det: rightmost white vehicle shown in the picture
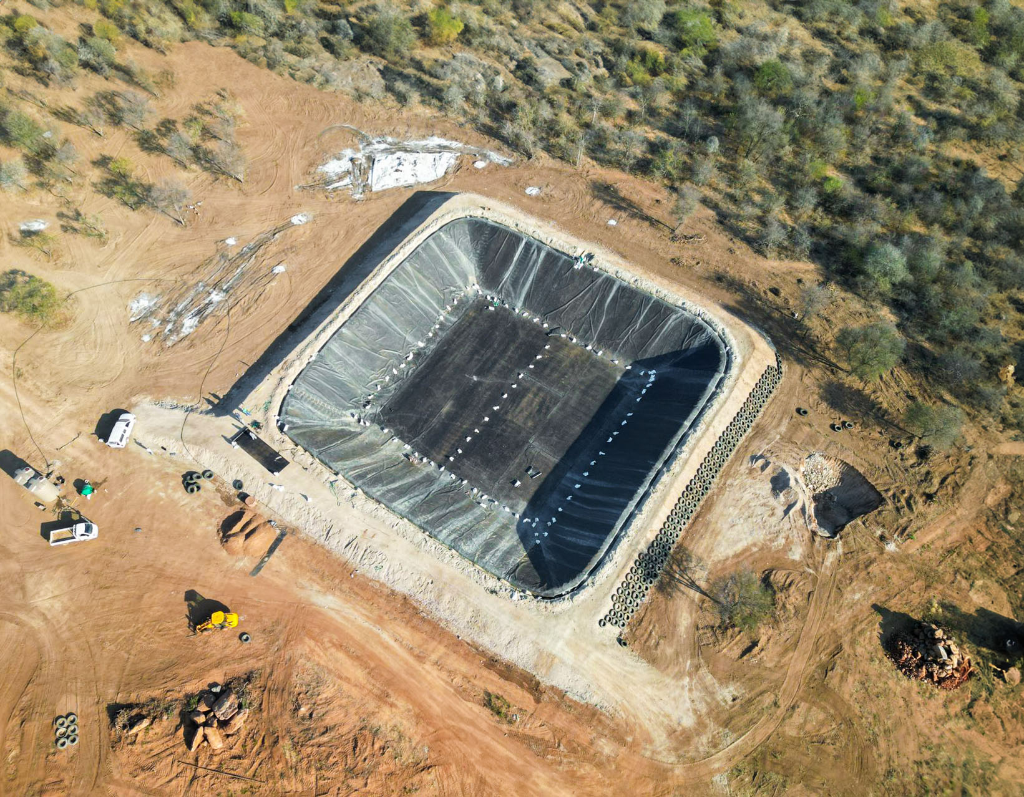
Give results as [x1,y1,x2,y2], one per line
[103,413,137,453]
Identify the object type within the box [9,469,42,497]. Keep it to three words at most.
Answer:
water tank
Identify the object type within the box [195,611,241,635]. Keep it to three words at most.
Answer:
work vehicle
